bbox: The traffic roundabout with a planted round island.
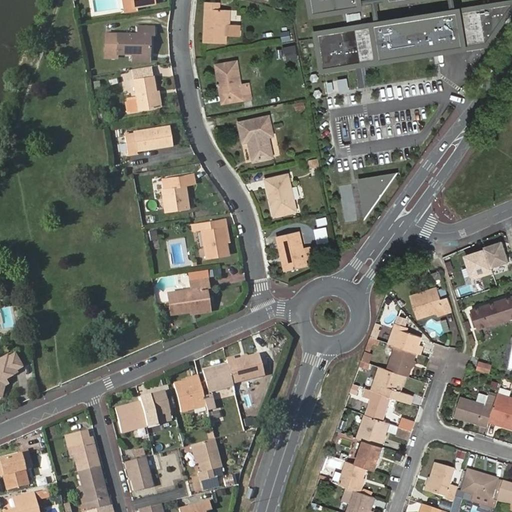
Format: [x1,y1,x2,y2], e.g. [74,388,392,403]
[290,276,370,356]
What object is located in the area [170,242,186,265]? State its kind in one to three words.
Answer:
swimming pool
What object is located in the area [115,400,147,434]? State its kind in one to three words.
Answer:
house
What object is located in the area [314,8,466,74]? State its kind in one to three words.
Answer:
building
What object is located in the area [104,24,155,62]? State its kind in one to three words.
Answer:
house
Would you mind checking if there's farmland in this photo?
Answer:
No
